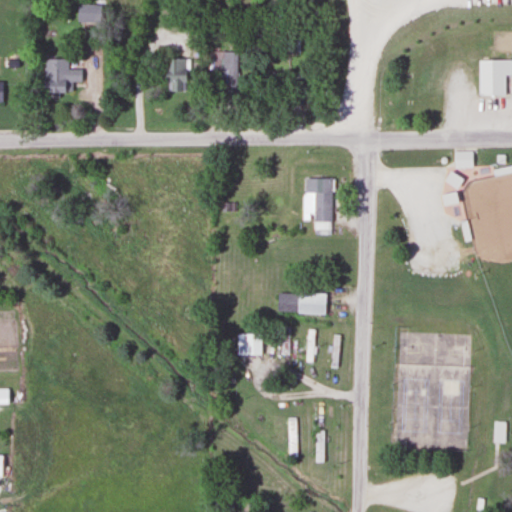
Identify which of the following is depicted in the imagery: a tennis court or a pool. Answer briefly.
tennis court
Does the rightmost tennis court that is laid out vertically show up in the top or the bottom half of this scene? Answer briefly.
bottom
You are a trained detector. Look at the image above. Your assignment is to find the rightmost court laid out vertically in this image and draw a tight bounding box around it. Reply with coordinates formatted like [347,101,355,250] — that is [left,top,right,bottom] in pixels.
[430,366,470,448]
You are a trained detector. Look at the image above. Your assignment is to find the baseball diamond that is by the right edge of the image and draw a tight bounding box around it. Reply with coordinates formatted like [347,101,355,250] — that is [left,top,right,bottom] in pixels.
[465,174,512,262]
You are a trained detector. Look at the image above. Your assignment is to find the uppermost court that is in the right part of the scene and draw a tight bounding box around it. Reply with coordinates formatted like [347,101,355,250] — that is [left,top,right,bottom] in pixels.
[397,333,472,366]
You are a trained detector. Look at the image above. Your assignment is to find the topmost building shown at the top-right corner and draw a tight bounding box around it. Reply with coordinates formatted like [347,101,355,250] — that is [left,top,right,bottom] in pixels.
[480,60,512,99]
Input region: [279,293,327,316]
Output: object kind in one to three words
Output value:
house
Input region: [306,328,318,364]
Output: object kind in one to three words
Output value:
house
